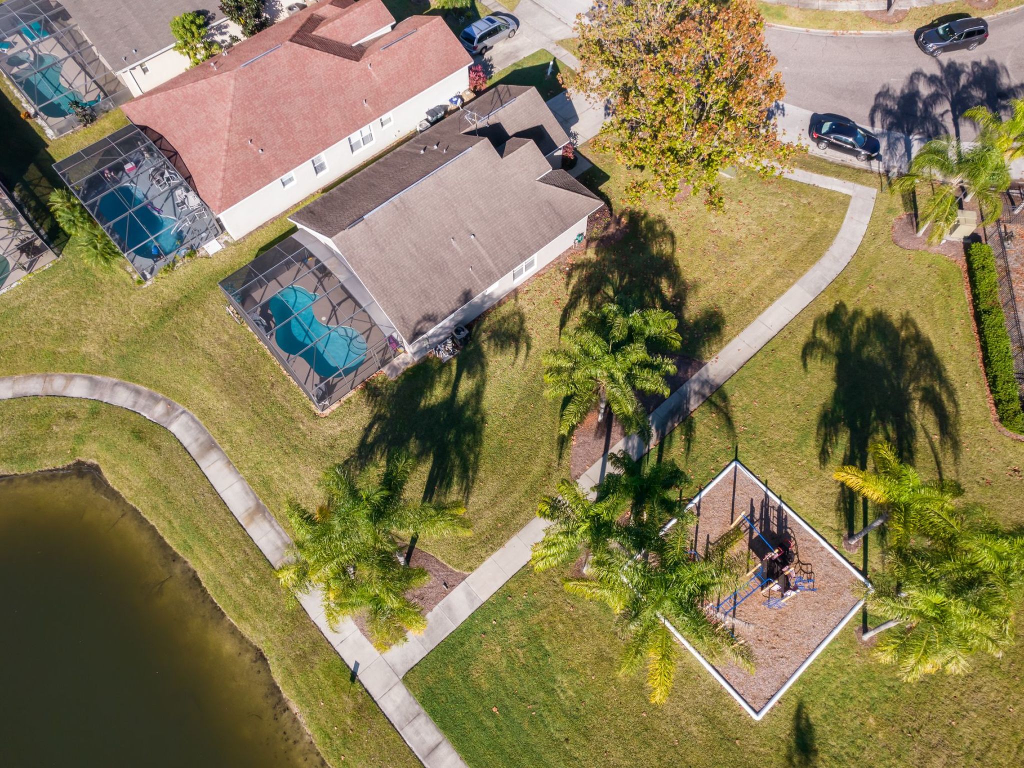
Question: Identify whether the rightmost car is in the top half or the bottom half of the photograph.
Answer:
top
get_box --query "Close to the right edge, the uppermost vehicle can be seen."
[919,18,988,57]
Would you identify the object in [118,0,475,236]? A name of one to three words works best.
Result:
house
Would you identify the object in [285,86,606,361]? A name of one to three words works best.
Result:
house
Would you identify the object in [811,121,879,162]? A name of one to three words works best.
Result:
car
